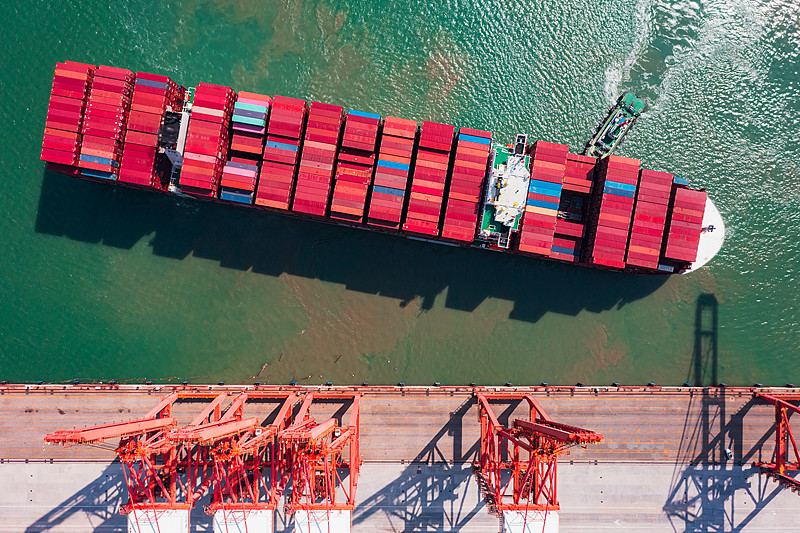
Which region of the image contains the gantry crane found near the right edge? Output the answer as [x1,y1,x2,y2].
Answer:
[742,393,800,503]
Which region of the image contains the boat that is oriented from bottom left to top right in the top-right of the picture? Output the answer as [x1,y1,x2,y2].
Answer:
[580,92,645,159]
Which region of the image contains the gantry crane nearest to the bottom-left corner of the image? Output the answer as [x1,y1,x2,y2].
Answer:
[40,392,236,533]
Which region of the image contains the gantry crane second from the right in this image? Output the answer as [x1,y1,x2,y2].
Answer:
[466,392,609,533]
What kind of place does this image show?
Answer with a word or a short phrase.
port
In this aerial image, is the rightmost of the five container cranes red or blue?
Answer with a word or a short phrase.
red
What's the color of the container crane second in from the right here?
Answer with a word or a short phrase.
red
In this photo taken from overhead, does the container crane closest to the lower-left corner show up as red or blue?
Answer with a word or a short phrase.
red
